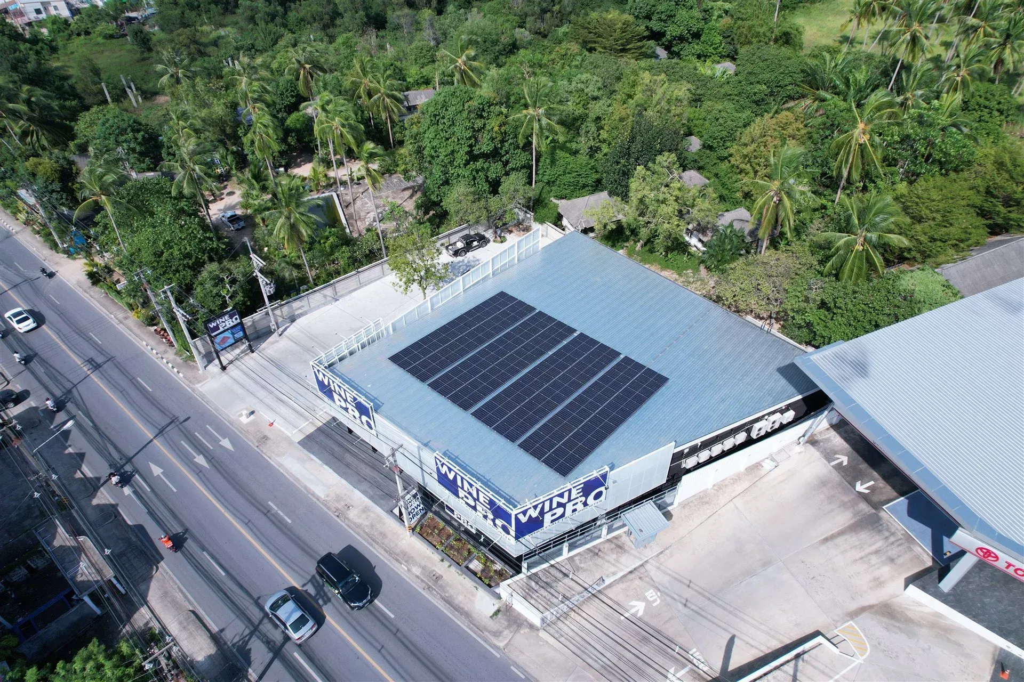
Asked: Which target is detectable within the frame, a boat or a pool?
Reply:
pool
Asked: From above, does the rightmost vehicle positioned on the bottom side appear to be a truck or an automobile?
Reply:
automobile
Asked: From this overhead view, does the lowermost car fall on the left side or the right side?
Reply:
left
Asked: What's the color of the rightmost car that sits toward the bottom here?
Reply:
black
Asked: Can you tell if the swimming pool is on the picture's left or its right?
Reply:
left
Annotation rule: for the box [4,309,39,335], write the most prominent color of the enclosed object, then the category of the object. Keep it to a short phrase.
white car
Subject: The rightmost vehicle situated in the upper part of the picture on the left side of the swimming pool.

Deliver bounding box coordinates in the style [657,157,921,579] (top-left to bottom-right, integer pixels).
[220,210,246,233]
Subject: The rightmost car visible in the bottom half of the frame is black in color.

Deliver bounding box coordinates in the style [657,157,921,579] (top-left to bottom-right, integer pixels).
[314,556,370,615]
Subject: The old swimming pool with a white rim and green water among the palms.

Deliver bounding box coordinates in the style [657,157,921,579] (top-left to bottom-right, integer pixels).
[300,189,355,252]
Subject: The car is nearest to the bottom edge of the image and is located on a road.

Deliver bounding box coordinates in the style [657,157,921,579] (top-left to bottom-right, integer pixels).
[265,589,318,647]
